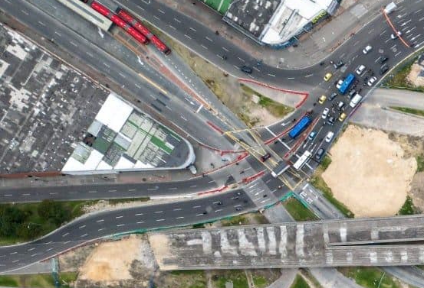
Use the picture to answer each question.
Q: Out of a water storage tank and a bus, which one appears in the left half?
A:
bus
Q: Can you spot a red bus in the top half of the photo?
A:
Yes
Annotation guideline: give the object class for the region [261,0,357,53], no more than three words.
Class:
building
